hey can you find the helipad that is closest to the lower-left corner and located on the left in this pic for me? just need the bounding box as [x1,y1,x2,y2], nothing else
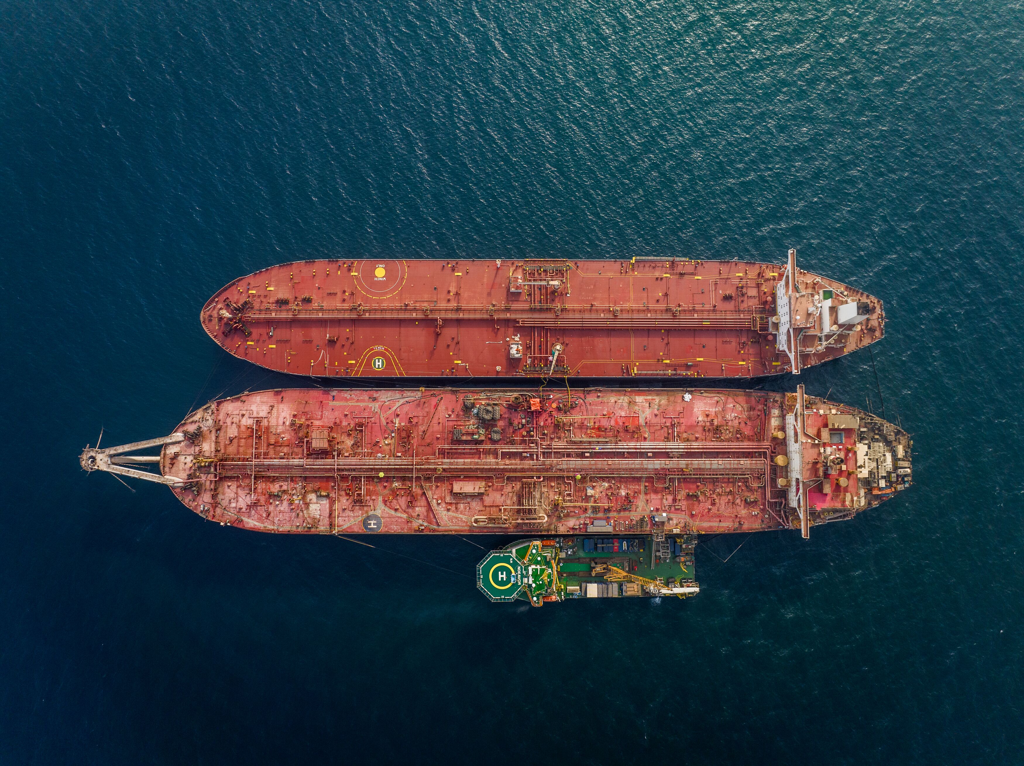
[362,512,383,532]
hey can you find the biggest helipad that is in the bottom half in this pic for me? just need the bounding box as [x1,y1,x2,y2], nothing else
[477,550,527,603]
